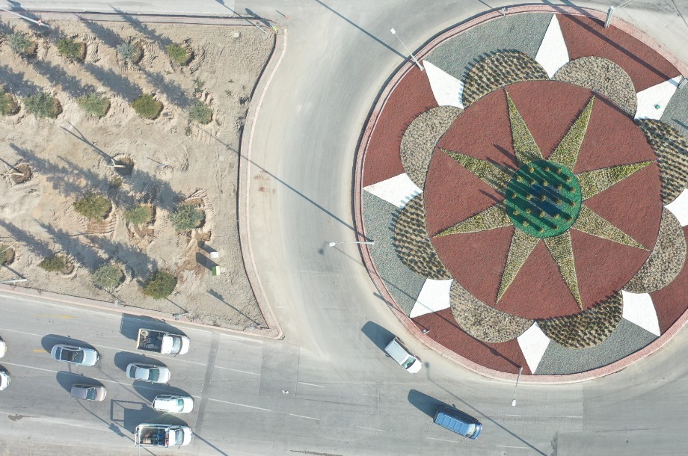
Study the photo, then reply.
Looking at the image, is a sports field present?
No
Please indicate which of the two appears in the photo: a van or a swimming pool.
van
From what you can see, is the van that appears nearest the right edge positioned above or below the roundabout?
below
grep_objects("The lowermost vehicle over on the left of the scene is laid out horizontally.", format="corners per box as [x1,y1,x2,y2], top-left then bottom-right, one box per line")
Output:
[135,423,193,448]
